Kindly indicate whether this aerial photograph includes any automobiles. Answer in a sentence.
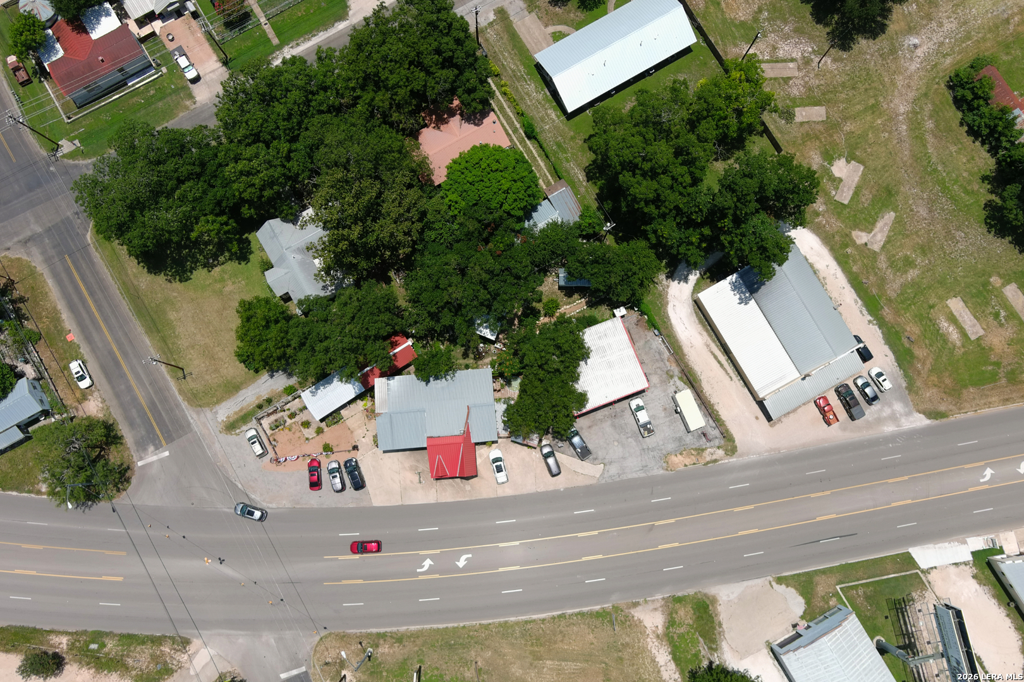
Yes, the photo shows an automobile.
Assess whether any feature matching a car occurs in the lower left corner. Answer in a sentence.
Yes, looking in the lower left corner, one can make out a car.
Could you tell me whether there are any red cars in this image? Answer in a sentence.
Yes, there's a red car here.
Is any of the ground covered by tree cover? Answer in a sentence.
Yes, there's tree cover in this view.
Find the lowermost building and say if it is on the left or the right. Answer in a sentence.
The lowermost building is on the right side of the image.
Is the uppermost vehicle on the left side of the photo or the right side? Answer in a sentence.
The uppermost vehicle appears in the left half of the scene.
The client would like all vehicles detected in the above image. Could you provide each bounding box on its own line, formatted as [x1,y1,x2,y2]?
[169,45,200,84]
[350,539,383,556]
[182,0,204,21]
[6,53,32,87]
[835,384,865,422]
[630,398,652,439]
[325,459,345,494]
[235,501,269,523]
[564,426,592,463]
[867,366,891,394]
[70,358,93,389]
[490,449,507,484]
[813,394,838,426]
[541,443,560,477]
[306,458,323,492]
[245,427,268,460]
[853,375,878,406]
[344,457,365,492]
[853,331,876,366]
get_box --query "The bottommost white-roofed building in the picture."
[769,602,897,682]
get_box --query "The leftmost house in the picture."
[0,377,52,451]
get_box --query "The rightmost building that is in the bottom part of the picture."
[992,555,1024,624]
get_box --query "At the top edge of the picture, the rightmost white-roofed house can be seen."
[535,0,697,116]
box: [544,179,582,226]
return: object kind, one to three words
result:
shed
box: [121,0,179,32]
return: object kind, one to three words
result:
house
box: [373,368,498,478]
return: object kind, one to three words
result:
building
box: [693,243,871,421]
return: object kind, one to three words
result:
warehouse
